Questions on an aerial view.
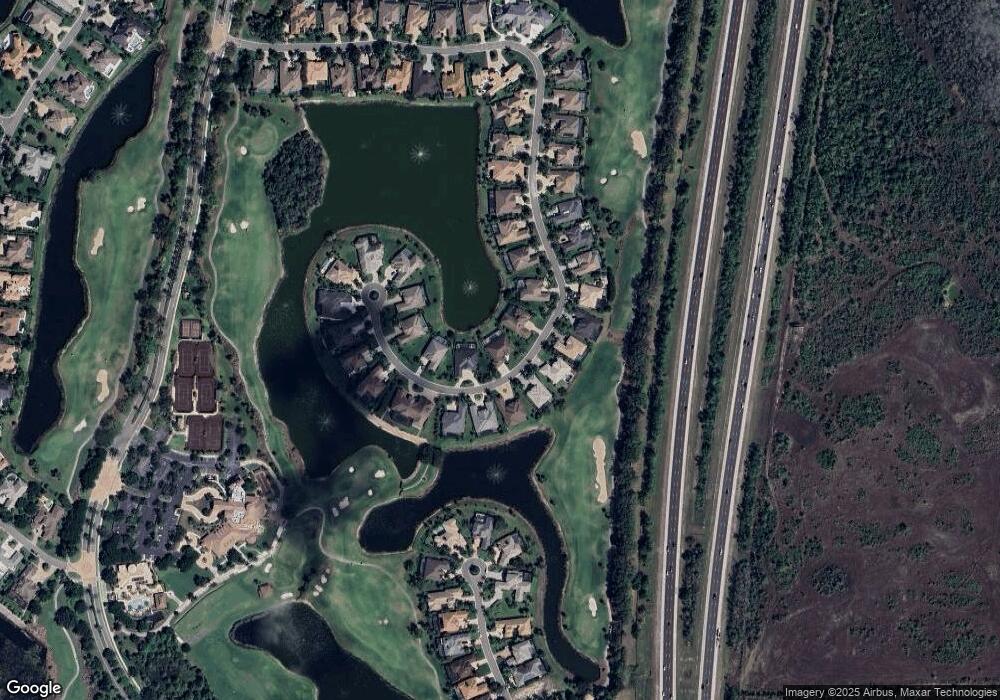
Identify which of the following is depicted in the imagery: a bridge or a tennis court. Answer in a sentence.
It is a tennis court that can be seen here.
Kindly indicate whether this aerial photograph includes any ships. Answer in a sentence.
No, there isn't any ship down there.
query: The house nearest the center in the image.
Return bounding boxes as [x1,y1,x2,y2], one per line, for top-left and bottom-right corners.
[482,328,512,361]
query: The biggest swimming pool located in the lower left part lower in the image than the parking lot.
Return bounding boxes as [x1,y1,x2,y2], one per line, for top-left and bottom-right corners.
[114,582,163,618]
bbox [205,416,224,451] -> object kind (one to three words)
tennis court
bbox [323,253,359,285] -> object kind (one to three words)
house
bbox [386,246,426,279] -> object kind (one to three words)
house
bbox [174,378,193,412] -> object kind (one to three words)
tennis court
